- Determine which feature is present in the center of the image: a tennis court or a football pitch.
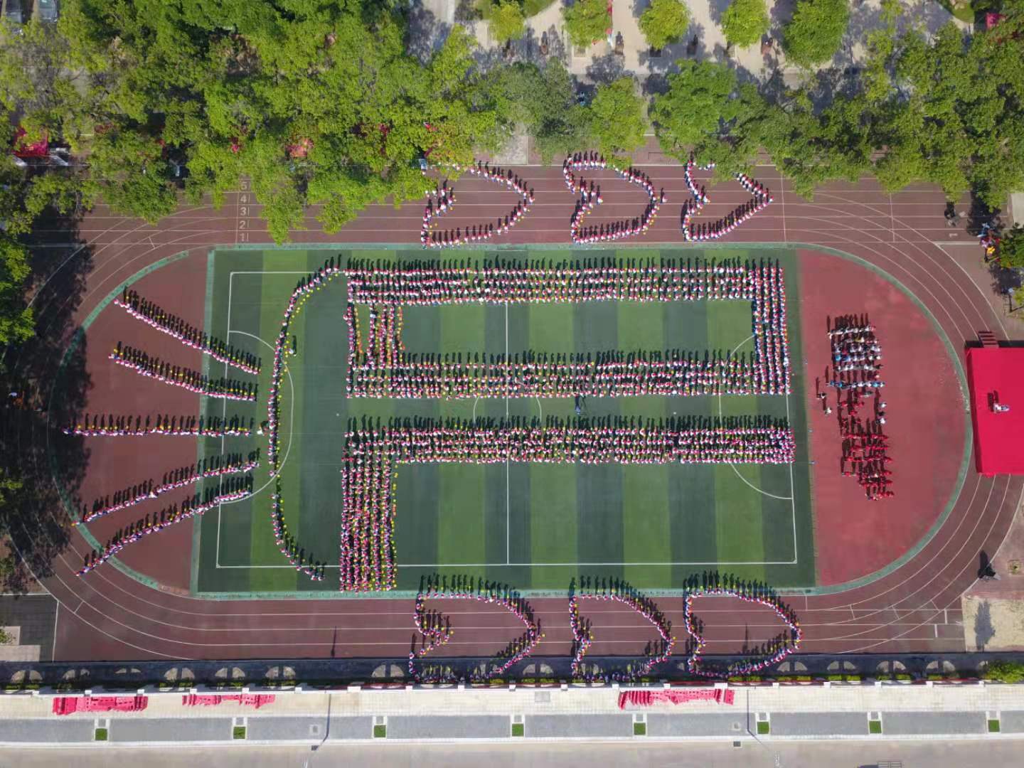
football pitch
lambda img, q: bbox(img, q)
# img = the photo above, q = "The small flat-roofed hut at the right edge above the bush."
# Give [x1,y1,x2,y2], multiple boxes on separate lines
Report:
[995,191,1024,230]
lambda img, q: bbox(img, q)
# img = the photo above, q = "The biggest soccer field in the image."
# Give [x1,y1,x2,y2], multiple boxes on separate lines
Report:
[199,248,817,593]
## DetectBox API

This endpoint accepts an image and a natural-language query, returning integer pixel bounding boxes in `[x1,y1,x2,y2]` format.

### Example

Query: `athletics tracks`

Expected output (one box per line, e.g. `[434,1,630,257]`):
[0,164,1024,661]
